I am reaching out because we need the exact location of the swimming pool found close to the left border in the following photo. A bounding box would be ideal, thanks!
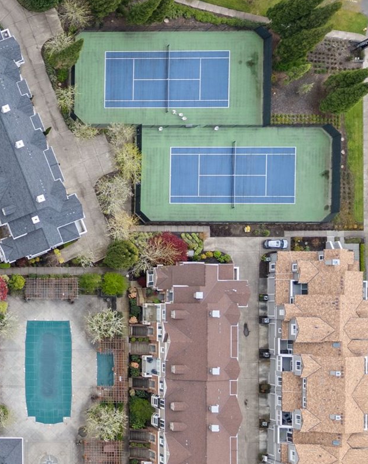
[0,295,127,464]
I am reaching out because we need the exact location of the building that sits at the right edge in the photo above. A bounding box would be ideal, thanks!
[258,239,368,464]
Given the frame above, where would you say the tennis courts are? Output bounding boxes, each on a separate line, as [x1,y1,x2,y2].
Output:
[75,25,272,126]
[141,122,342,222]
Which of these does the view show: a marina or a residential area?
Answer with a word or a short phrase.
residential area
